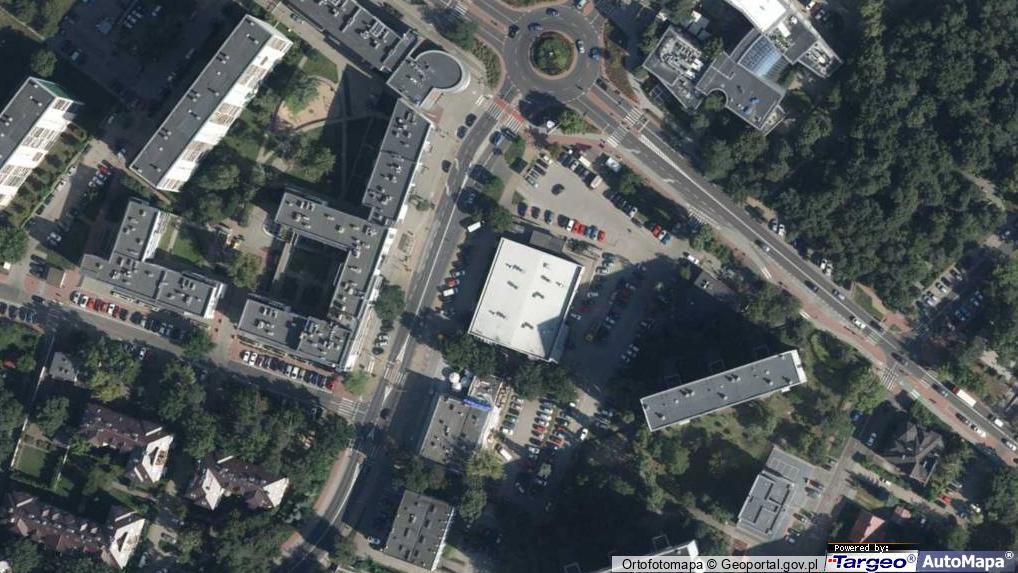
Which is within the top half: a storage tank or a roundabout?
roundabout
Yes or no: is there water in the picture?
No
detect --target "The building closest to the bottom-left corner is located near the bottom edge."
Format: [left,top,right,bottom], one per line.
[5,491,149,570]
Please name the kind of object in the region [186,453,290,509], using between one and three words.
house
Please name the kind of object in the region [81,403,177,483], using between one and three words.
house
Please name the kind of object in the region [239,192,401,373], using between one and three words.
building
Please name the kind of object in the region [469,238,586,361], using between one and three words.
building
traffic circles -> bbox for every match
[504,5,602,103]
